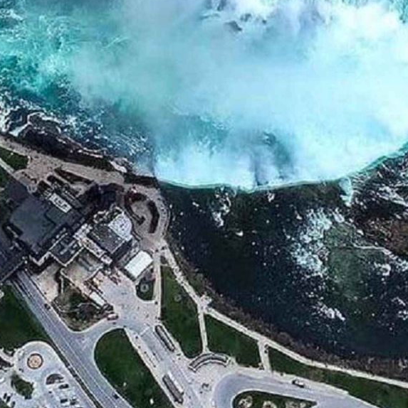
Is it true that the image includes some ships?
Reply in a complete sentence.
No, I can see no ship in this picture.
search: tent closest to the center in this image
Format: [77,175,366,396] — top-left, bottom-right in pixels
[124,251,153,281]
